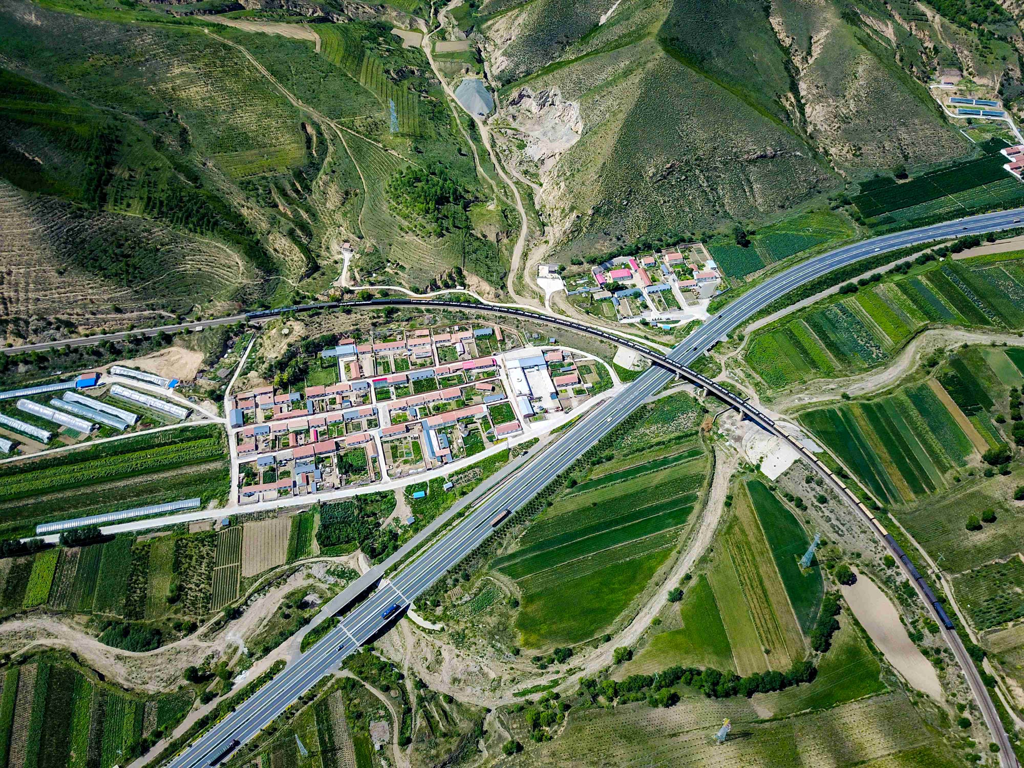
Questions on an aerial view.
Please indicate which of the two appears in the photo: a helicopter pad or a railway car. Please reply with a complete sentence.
It is a railway car that can be seen here.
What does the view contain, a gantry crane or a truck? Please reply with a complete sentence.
This aerial view contains a truck.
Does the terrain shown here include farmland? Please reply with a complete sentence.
Yes, farmland shows up in the scene.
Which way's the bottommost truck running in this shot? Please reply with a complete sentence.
The bottommost truck runs on a diagonal in the image.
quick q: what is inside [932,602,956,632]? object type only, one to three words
rail car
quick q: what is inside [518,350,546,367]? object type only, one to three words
building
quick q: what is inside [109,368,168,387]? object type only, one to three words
greenhouse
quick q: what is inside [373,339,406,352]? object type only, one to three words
house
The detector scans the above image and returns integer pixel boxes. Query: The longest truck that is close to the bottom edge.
[206,735,243,767]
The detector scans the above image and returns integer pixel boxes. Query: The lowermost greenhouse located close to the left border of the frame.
[35,499,200,536]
